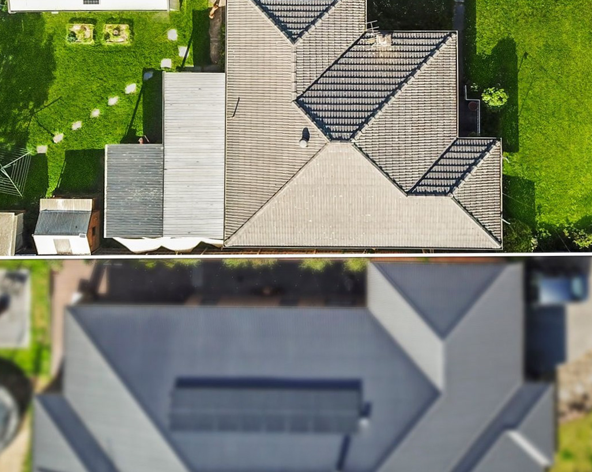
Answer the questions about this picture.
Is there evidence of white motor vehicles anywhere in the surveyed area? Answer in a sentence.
No, I can't see a single white motor vehicle in this photo.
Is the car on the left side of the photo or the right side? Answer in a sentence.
The car sits on the right side.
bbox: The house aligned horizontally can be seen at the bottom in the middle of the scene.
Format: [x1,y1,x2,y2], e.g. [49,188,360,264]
[31,257,556,472]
